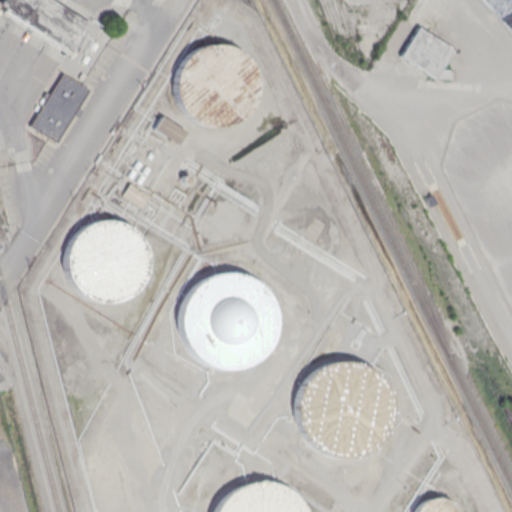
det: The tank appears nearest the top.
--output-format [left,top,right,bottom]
[172,45,262,132]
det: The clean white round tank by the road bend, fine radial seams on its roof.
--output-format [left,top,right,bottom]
[61,220,153,310]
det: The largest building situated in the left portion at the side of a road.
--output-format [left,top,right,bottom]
[28,72,92,146]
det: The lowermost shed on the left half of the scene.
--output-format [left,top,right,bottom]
[122,184,151,208]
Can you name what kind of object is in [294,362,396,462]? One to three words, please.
storage tank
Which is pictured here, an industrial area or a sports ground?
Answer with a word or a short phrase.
industrial area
